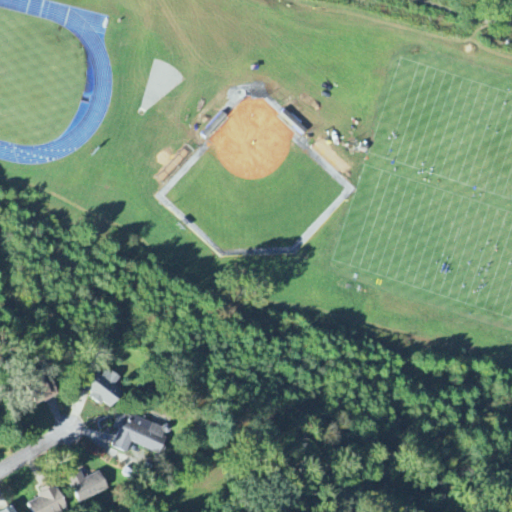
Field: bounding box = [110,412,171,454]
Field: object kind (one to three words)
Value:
house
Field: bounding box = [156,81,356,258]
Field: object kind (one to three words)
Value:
baseball field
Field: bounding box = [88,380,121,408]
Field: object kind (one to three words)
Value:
house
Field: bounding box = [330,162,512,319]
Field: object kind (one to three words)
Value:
sports field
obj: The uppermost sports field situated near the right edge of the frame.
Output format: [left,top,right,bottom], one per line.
[366,55,512,200]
